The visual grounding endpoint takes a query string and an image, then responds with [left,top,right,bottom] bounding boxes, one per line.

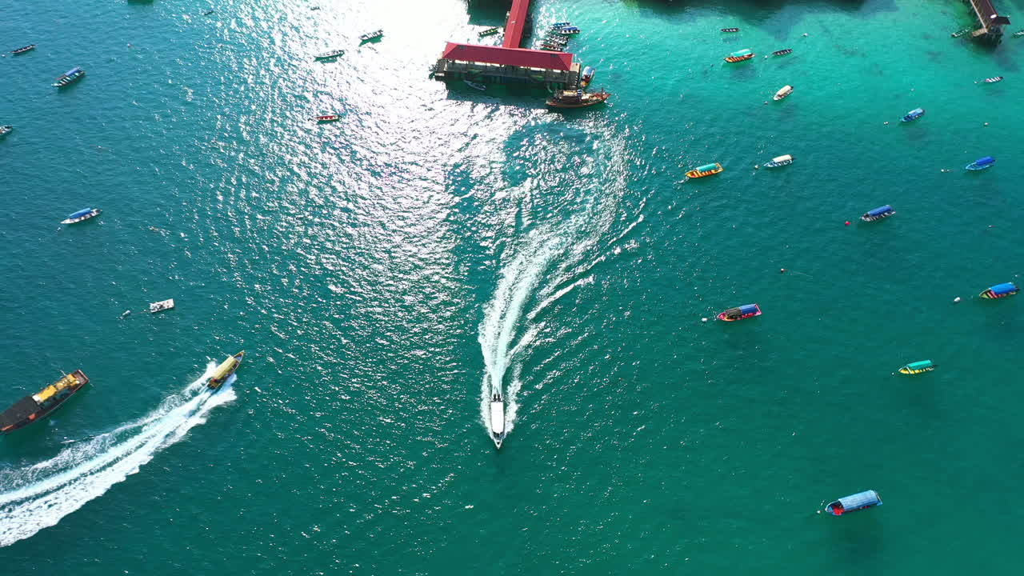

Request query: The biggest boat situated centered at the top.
[546,82,613,106]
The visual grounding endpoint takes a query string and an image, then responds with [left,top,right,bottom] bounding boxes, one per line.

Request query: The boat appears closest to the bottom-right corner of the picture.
[825,492,884,515]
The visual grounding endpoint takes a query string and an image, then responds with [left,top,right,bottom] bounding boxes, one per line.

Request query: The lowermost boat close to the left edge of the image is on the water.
[0,370,95,440]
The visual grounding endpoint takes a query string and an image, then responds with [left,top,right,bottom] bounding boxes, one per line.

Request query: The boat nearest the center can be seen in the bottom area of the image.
[489,392,507,451]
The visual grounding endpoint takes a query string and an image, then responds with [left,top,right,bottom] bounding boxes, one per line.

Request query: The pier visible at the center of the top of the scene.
[432,0,582,92]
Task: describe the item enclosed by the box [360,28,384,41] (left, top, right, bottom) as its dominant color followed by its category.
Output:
white boat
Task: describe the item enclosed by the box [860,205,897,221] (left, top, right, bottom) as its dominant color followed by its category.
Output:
blue boat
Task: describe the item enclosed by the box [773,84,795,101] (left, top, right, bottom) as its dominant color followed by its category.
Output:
white boat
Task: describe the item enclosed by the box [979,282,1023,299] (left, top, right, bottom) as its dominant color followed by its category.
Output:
blue boat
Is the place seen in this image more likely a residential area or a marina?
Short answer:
marina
